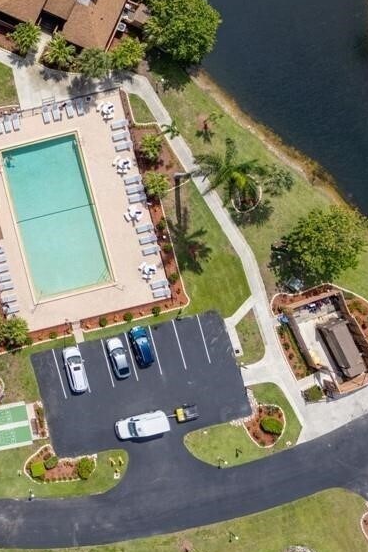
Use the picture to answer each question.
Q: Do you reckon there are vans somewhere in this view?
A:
Yes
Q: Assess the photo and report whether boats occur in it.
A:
No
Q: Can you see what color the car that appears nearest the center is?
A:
blue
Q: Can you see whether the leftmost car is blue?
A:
No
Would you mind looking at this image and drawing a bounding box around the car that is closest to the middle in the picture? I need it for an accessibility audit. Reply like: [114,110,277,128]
[129,326,154,366]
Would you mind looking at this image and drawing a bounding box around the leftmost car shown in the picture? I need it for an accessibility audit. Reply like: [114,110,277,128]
[62,347,87,392]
